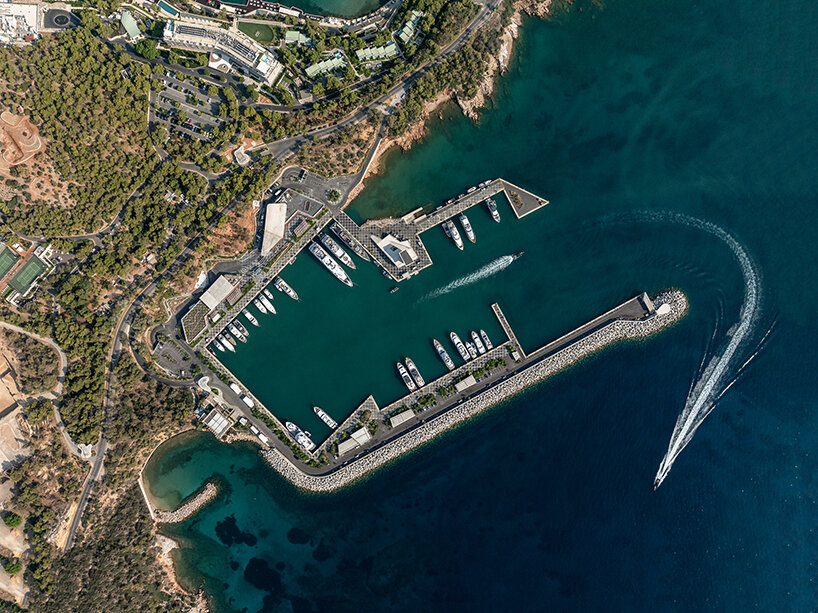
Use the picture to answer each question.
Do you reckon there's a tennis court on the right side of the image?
No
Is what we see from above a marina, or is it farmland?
marina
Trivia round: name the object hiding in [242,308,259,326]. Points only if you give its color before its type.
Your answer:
white boat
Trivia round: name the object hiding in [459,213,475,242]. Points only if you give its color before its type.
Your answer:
white boat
